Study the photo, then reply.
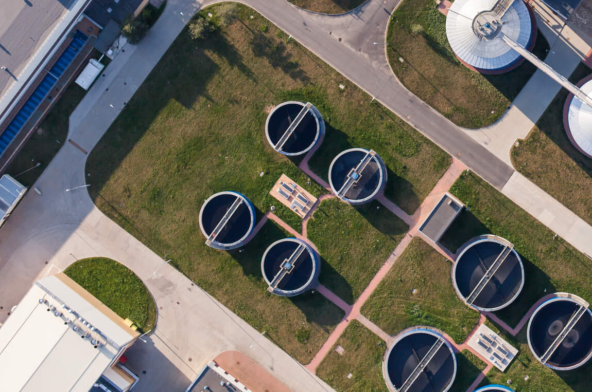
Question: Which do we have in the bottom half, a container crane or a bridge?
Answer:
bridge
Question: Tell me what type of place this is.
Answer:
industrial area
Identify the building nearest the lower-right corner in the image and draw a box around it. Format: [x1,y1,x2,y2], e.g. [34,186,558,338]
[418,192,465,244]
